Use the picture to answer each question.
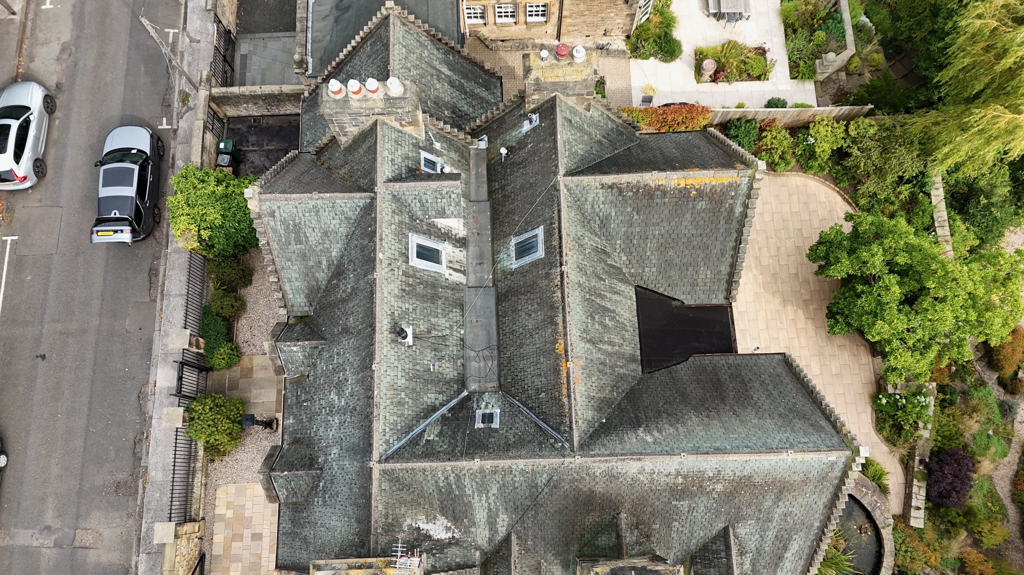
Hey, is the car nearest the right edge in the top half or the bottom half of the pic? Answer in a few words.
top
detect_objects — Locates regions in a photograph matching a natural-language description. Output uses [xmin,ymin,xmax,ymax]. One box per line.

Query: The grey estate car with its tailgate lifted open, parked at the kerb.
[84,126,167,251]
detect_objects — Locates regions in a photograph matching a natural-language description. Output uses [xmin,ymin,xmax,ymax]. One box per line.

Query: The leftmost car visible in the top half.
[0,82,56,193]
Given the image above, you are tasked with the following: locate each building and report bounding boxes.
[462,0,650,44]
[246,6,867,575]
